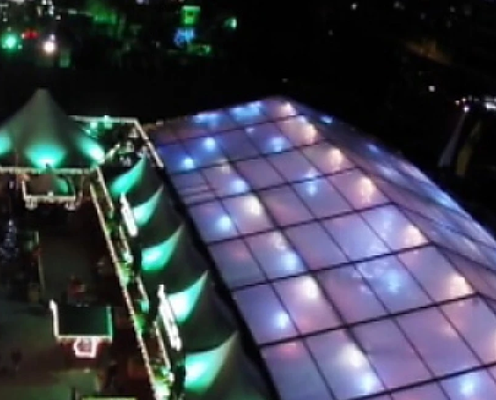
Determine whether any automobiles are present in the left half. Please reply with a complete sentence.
No, no automobile appears in the left half.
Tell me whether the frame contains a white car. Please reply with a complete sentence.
No, the picture doesn't show any white car.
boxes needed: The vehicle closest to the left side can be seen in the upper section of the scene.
[451,85,489,118]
